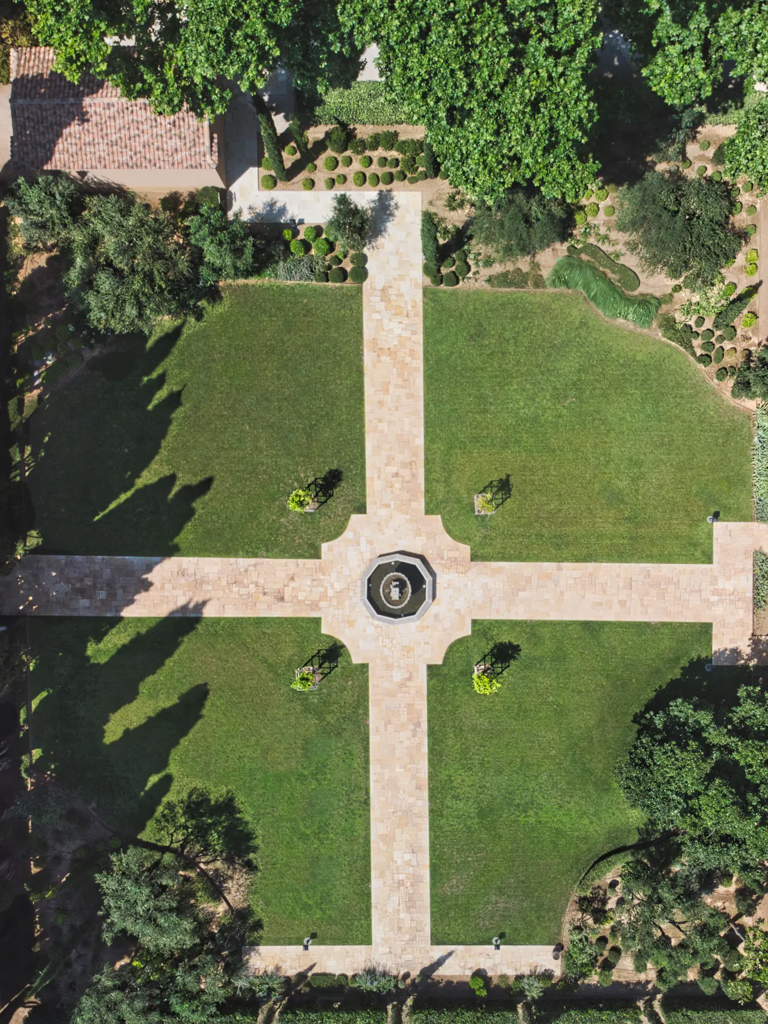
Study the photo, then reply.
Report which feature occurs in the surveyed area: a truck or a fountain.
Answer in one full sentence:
It is a fountain that can be seen here.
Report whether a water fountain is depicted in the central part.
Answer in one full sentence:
Yes, you'll find a water fountain in the central part.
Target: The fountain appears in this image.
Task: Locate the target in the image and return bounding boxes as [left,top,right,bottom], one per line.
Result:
[363,554,430,625]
